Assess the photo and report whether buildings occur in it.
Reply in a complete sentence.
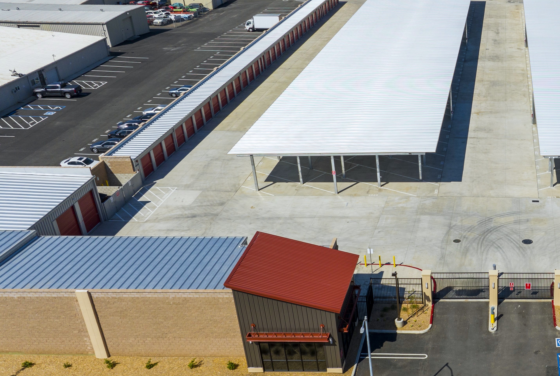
Yes, this view includes a building.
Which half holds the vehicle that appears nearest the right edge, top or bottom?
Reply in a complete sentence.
The top half of the photo is where the vehicle that appears nearest the right edge is.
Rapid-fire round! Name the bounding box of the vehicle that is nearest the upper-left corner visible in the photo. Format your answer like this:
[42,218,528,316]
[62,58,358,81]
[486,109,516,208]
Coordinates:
[29,79,84,98]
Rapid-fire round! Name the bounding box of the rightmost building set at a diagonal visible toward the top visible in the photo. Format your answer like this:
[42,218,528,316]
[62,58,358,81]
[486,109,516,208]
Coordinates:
[102,0,335,182]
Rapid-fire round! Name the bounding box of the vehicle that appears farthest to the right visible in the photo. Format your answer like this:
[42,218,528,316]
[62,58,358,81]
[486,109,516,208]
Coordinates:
[245,11,285,31]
